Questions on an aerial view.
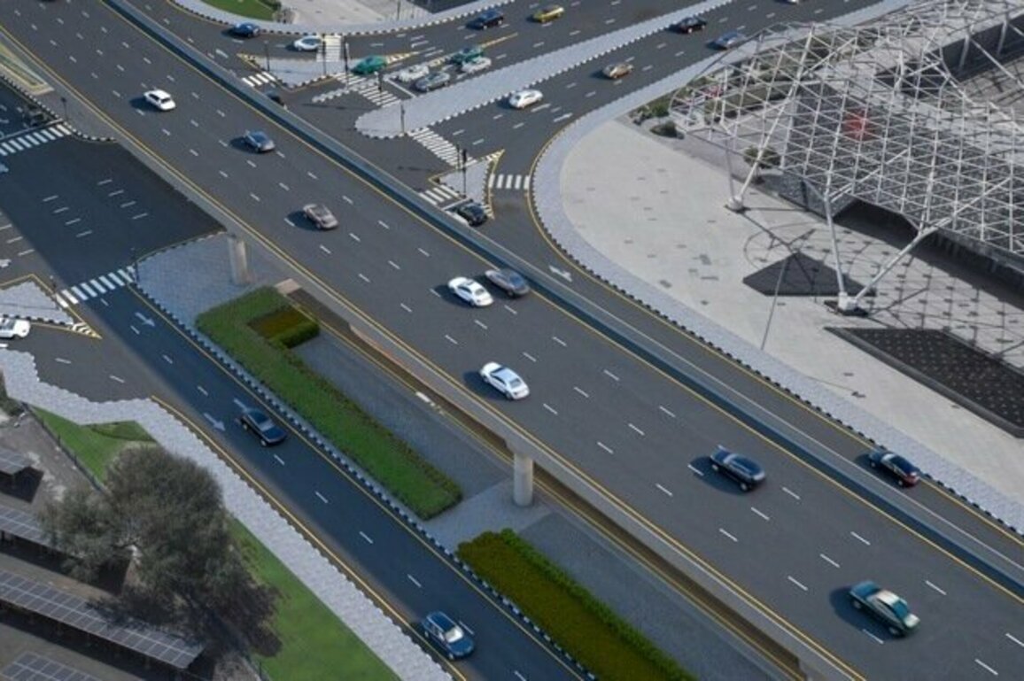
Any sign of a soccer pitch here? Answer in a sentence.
No, no soccer pitch can be seen from above.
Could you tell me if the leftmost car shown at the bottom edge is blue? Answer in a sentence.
Yes, the leftmost car shown at the bottom edge is indeed blue.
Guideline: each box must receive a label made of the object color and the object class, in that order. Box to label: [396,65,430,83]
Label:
white car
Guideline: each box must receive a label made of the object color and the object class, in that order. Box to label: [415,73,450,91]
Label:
gray car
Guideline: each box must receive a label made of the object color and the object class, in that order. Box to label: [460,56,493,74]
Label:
white car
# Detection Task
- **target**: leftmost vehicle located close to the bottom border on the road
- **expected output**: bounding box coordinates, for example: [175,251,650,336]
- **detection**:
[421,610,475,659]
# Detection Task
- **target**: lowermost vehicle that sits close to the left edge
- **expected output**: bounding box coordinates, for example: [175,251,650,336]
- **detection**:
[0,317,36,340]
